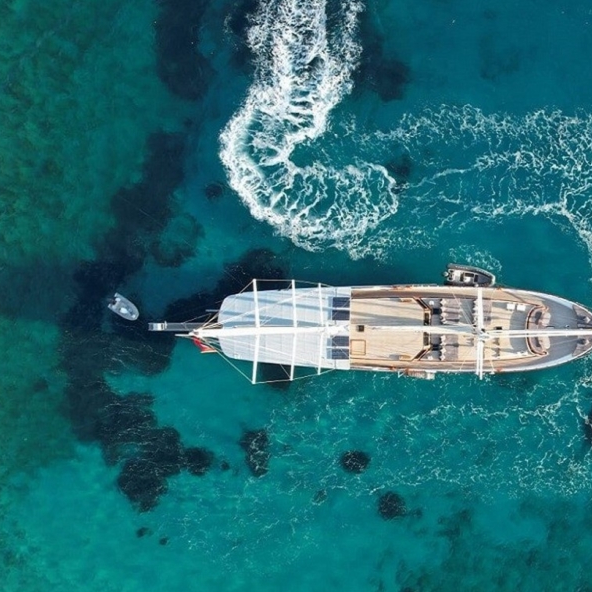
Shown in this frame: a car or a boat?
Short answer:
boat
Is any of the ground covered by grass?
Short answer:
No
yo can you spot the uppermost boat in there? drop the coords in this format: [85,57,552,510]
[444,265,495,286]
